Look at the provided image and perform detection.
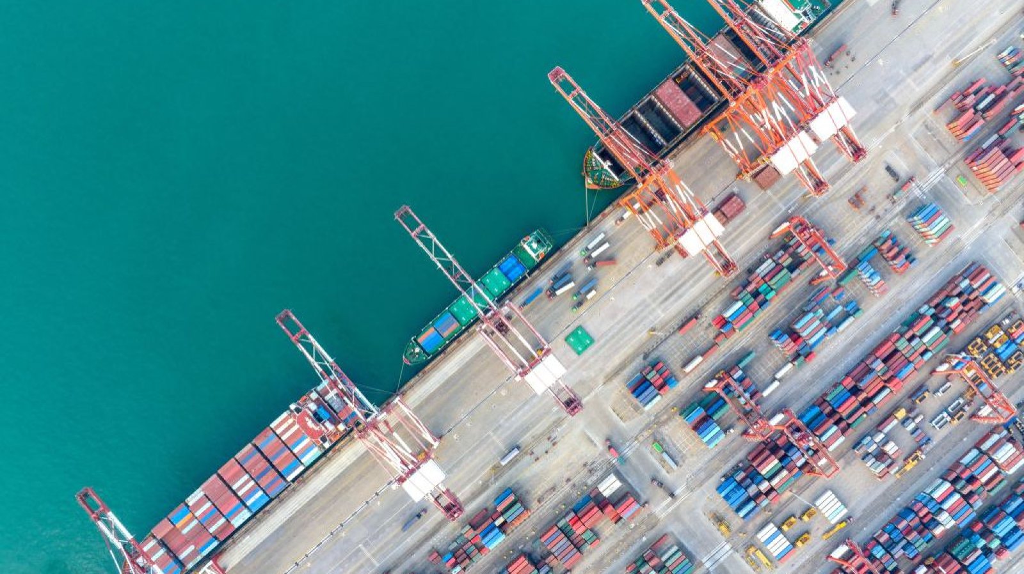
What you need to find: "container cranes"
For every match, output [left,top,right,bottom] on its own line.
[827,542,881,574]
[395,206,583,417]
[764,413,839,479]
[769,217,846,287]
[276,310,464,521]
[75,486,167,574]
[707,0,868,167]
[642,0,830,200]
[700,376,773,440]
[551,68,739,280]
[930,359,1015,423]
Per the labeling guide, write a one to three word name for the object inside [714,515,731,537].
work vehicle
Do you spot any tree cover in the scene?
No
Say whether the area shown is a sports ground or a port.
port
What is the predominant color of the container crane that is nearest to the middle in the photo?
white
